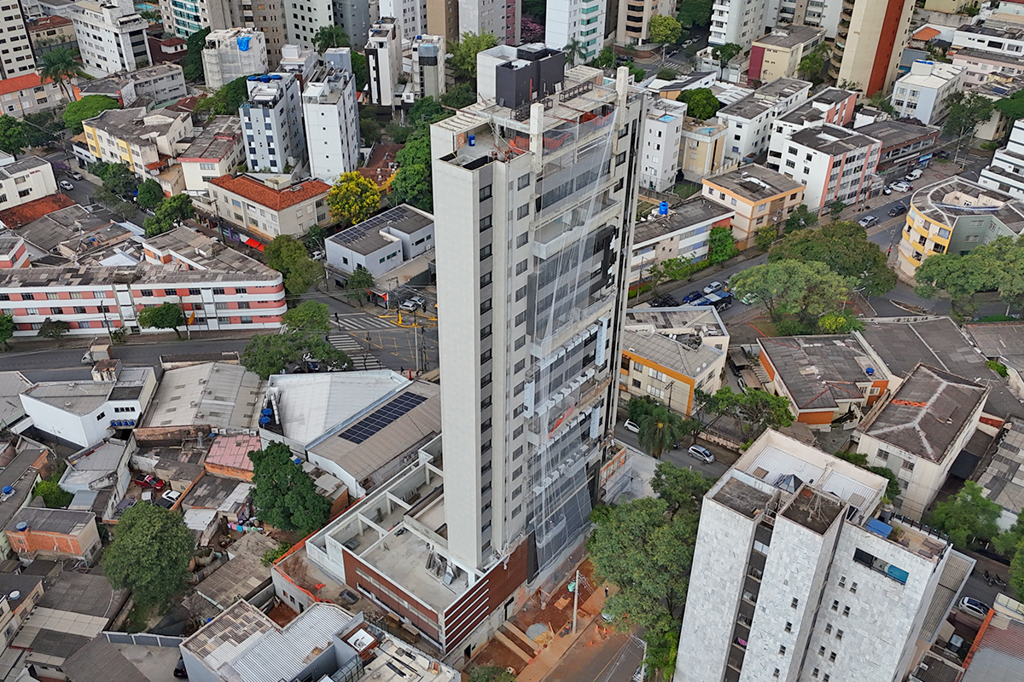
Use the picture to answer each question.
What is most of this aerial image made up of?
buildings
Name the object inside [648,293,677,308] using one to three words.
vehicle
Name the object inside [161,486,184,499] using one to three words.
vehicle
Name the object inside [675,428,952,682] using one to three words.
building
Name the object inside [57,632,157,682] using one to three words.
shed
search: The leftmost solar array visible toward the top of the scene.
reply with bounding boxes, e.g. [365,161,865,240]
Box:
[335,202,433,246]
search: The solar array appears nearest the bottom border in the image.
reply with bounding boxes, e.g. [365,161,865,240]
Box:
[336,383,436,446]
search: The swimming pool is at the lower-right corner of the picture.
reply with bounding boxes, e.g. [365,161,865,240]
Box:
[886,565,910,587]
